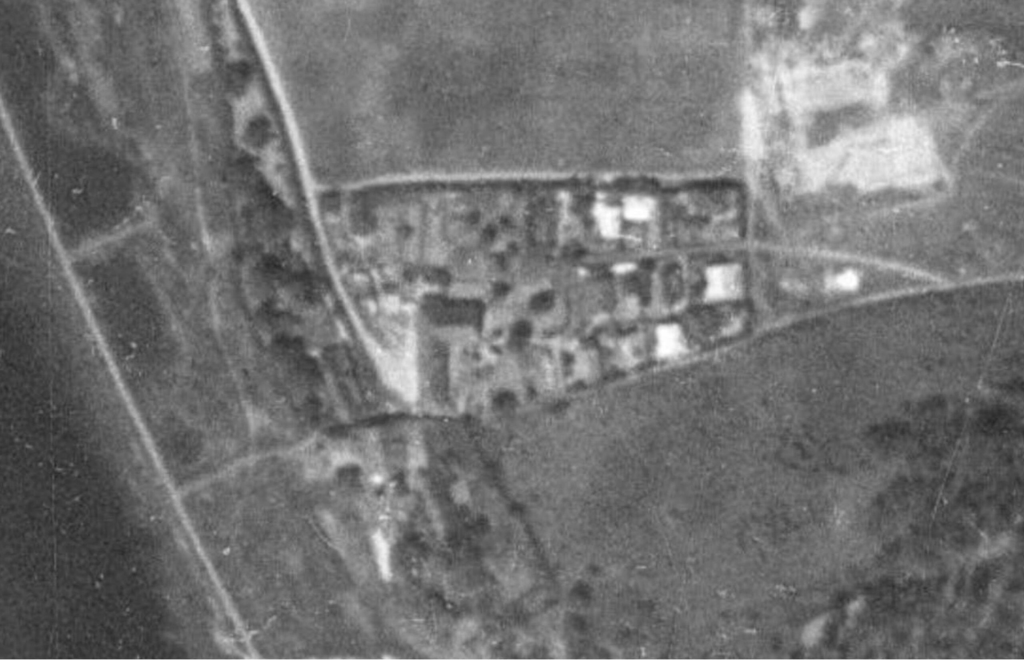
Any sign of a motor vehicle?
No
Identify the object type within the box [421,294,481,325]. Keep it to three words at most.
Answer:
barn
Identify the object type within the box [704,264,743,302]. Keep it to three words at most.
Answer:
house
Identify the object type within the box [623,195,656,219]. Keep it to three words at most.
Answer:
house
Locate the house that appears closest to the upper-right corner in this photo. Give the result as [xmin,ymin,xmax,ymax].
[828,271,859,289]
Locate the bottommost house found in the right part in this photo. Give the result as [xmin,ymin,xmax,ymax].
[657,324,690,357]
